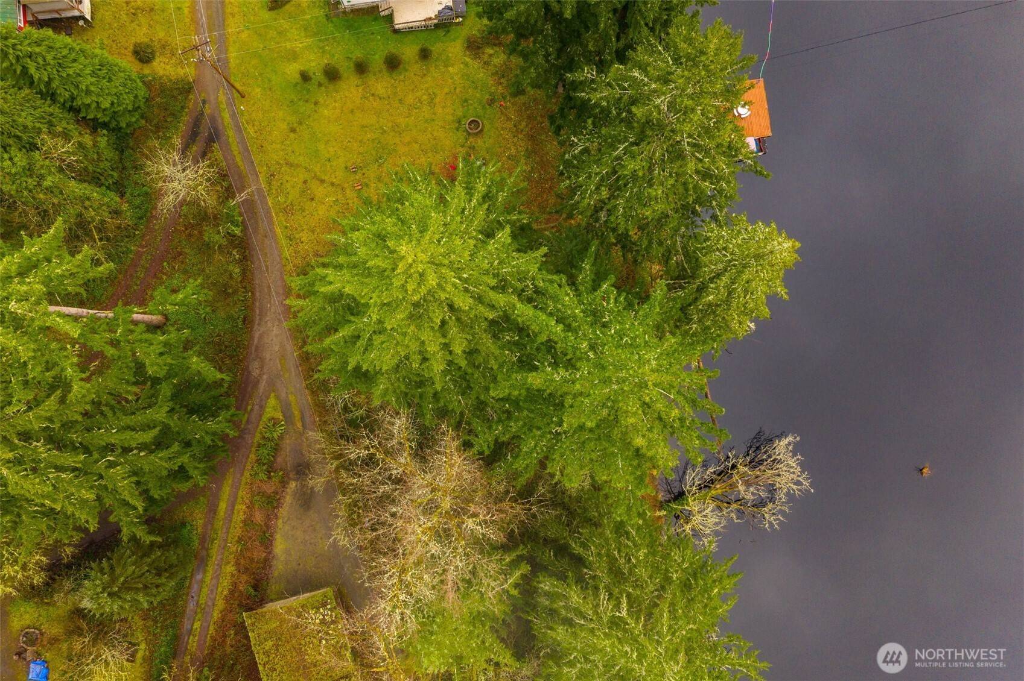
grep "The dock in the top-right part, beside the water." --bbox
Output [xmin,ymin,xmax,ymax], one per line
[724,78,772,144]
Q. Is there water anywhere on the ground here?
Yes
